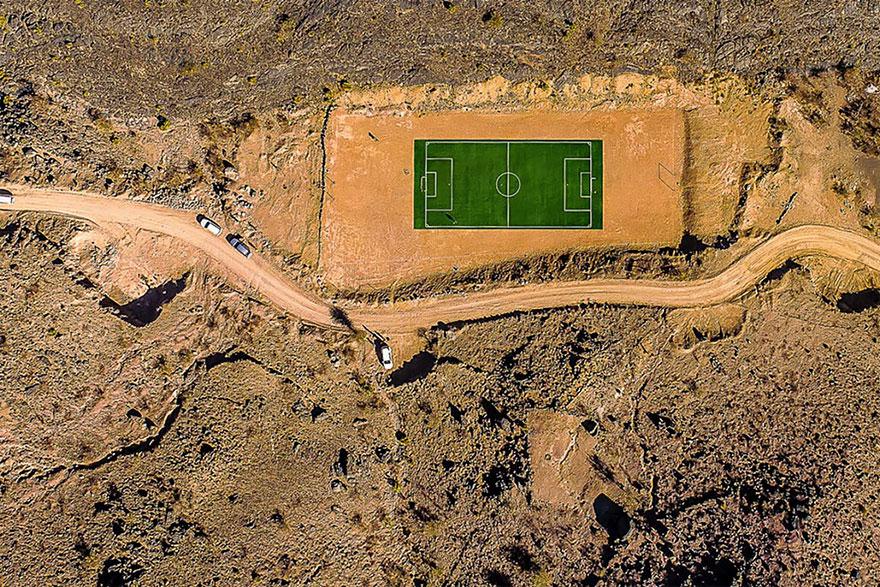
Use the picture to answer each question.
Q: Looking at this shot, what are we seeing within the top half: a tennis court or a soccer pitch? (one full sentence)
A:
You can see a soccer pitch within the top half.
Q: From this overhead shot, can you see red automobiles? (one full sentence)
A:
No, there appears to be no red automobile in this shot.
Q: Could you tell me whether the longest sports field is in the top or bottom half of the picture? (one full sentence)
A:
The longest sports field sits in the top half of the picture.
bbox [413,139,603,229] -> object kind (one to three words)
soccer field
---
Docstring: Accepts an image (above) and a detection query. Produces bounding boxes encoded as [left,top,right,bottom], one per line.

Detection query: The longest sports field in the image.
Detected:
[321,107,687,287]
